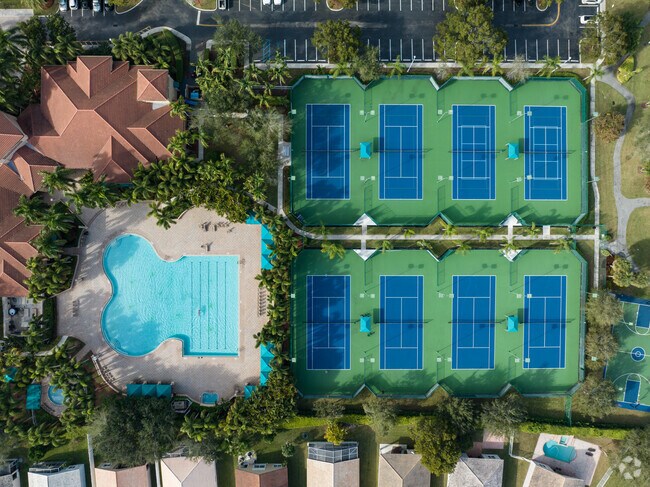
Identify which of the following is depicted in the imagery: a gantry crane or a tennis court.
tennis court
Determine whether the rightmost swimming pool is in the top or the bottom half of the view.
bottom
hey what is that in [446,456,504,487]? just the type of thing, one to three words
house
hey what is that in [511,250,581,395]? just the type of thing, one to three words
tennis court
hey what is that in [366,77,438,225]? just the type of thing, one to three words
tennis court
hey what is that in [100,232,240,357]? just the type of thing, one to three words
swimming pool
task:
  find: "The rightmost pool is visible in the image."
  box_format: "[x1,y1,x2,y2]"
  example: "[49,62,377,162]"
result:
[542,439,579,464]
